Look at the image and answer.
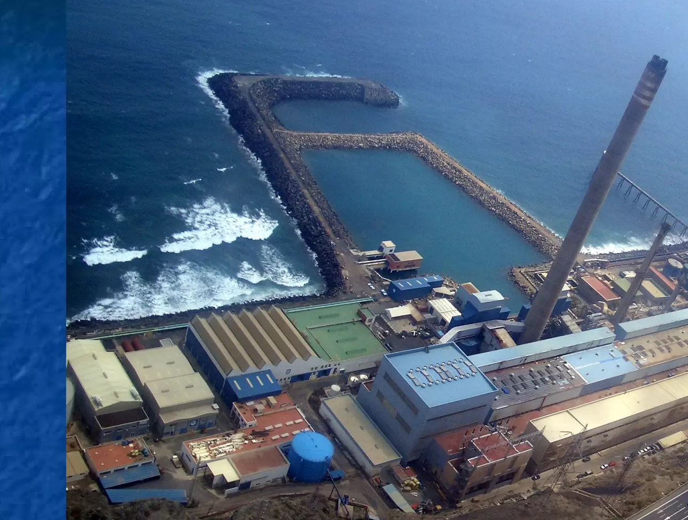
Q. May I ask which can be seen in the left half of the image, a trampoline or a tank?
tank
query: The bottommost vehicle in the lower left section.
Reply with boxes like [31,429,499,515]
[169,453,183,469]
